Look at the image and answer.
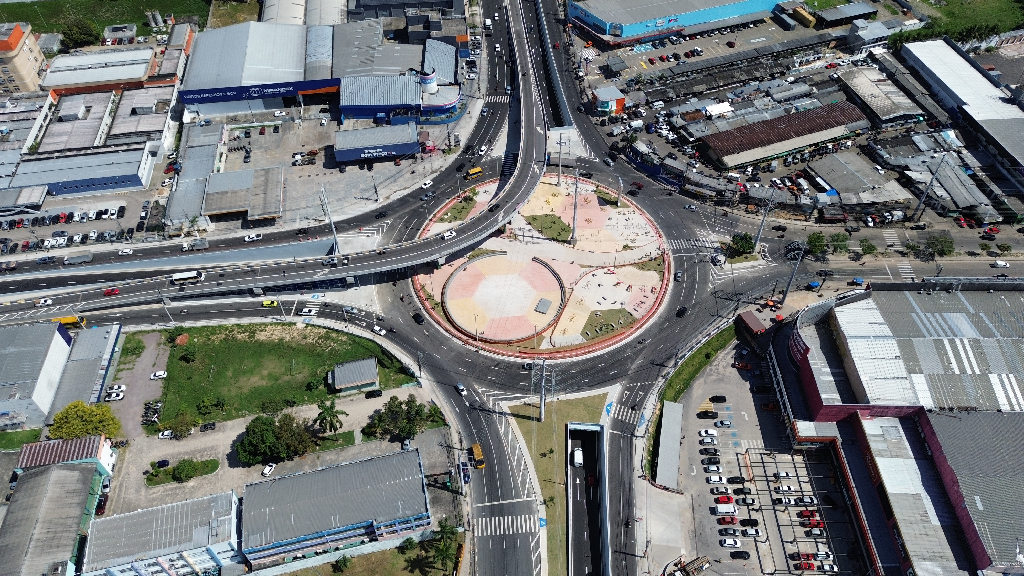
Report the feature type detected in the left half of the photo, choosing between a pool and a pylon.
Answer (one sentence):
Looking in the left half of the photo, you will find a pylon.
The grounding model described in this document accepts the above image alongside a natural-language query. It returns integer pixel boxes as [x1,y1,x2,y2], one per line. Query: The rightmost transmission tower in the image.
[910,154,955,222]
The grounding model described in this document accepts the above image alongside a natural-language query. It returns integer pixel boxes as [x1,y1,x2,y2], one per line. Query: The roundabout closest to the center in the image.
[369,155,714,394]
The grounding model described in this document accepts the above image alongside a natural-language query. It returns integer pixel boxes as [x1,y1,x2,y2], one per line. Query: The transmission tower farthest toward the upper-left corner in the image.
[321,182,342,255]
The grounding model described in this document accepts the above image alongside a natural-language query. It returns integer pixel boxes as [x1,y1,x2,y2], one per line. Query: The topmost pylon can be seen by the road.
[553,122,568,182]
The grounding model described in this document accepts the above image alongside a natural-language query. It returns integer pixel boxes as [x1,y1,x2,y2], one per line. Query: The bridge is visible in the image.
[0,0,550,326]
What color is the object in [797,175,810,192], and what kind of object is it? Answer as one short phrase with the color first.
white vehicle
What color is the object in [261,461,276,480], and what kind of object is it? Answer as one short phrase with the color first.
white car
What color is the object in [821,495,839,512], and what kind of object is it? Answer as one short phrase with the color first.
black car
